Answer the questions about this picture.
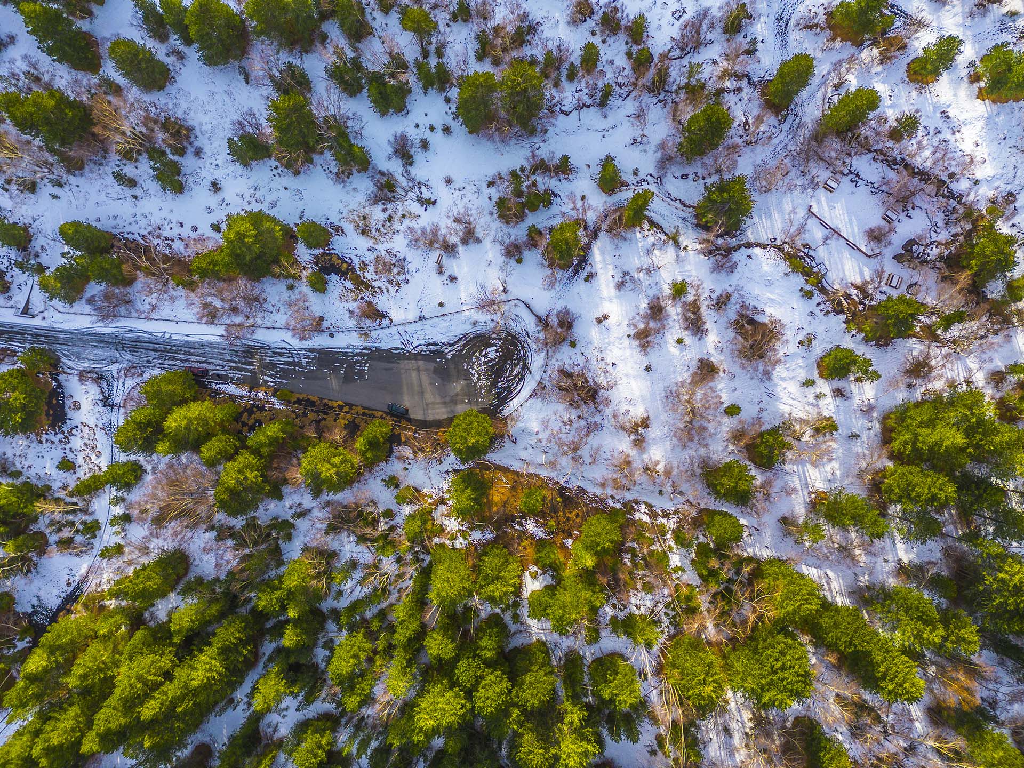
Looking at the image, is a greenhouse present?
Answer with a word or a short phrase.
No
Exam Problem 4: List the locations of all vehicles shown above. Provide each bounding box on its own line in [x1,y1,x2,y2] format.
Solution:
[386,403,408,416]
[184,367,207,378]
